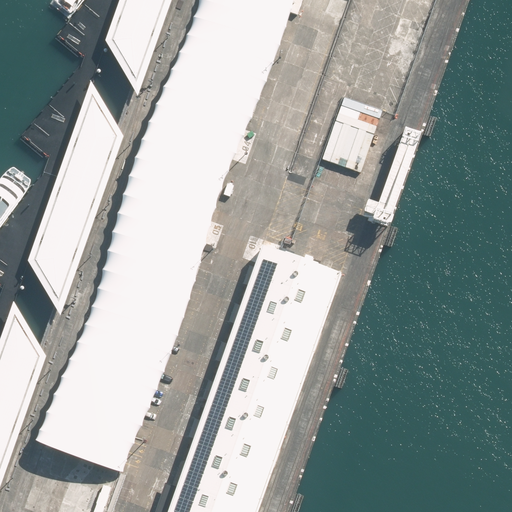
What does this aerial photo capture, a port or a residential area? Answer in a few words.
port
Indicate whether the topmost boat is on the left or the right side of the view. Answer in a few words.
left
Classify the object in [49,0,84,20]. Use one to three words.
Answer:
boat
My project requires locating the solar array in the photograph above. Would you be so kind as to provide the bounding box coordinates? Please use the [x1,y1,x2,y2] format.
[170,260,268,512]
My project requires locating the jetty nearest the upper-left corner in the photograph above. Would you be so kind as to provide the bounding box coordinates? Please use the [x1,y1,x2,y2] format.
[0,0,120,340]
